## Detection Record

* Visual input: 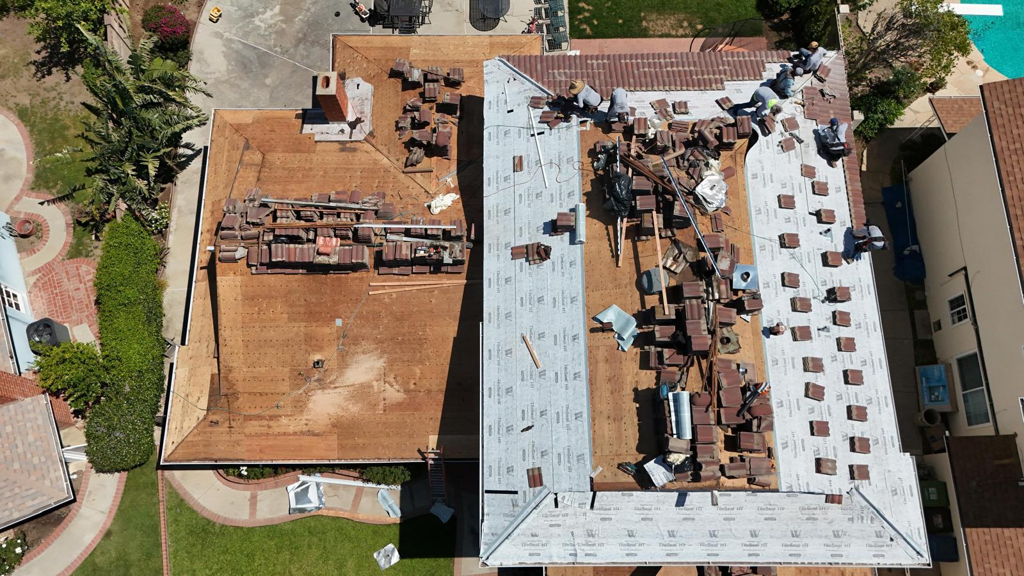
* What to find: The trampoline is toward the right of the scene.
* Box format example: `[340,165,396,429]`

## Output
[701,0,787,52]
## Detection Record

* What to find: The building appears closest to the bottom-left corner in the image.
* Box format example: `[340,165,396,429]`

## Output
[0,377,81,537]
